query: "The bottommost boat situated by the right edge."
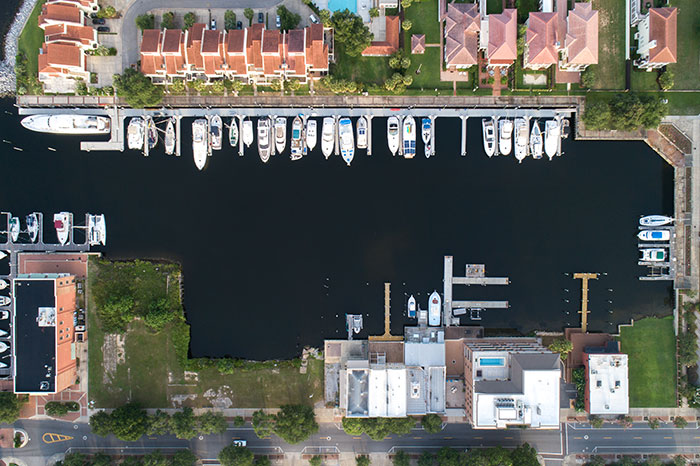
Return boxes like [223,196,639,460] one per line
[638,248,667,261]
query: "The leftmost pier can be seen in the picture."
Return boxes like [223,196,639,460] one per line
[0,212,92,279]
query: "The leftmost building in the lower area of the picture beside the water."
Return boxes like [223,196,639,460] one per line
[12,270,77,396]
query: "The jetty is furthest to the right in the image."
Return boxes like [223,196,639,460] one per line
[636,226,673,282]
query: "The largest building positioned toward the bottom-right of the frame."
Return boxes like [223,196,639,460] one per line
[465,342,561,428]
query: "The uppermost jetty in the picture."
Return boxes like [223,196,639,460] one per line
[19,103,577,156]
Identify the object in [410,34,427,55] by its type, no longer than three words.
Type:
building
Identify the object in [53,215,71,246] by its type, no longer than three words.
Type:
boat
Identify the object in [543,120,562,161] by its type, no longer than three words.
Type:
boat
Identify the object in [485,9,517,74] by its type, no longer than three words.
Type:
house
